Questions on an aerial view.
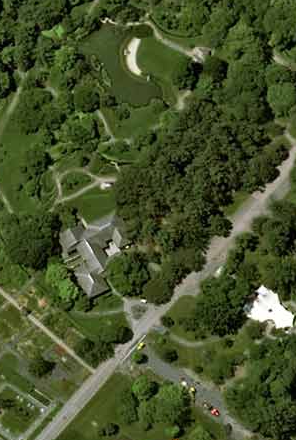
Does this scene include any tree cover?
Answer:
Yes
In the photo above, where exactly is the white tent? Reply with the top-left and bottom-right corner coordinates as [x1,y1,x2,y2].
[247,285,294,328]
